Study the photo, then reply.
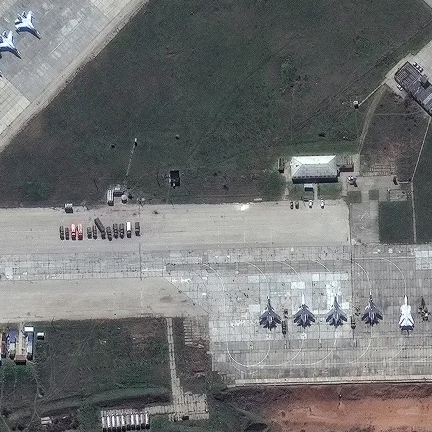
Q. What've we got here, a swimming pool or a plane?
plane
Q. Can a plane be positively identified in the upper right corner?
No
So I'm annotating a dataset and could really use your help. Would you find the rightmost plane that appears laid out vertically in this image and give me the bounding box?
[399,296,414,329]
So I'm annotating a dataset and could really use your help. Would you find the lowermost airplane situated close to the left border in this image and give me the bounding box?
[0,28,19,54]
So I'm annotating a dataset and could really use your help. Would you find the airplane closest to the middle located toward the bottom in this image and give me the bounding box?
[258,296,281,327]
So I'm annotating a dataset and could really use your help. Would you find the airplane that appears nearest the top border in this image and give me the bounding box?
[13,10,41,37]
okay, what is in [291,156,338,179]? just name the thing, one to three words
building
